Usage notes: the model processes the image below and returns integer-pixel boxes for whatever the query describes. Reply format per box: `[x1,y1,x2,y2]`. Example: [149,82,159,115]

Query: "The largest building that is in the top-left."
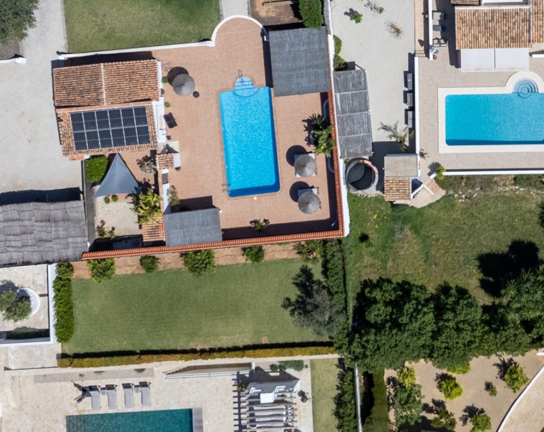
[53,59,168,161]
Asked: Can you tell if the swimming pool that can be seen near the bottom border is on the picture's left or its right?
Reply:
left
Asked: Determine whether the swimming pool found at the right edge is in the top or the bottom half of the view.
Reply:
top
